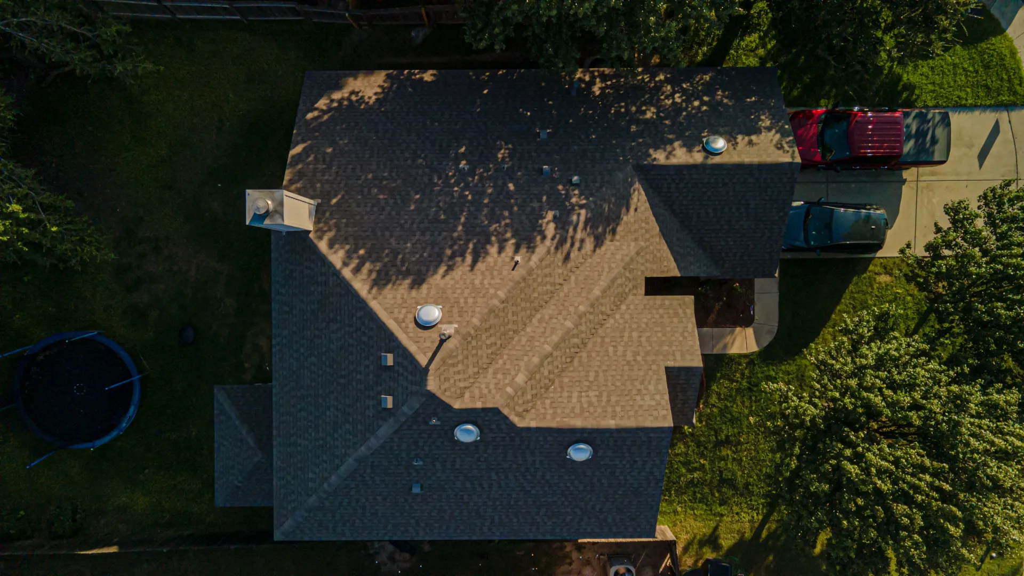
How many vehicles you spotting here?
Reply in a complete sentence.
There are 2 vehicles in the image.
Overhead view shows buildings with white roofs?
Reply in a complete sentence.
No, no building with a white roof is visible in the view.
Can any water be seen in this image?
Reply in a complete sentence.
No, the picture contains no water.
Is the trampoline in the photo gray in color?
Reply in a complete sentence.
No, from above the trampoline looks black.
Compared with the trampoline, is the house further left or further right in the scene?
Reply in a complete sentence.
Relative to the trampoline, the house lies to the right.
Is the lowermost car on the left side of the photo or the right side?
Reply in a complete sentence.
The lowermost car sits on the right side.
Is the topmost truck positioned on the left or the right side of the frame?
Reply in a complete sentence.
The topmost truck appears in the right half of the scene.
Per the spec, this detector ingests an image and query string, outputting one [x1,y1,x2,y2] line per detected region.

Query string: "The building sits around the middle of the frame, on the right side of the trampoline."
[214,66,800,542]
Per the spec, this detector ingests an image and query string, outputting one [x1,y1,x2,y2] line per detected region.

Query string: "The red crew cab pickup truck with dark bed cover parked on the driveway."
[788,100,952,174]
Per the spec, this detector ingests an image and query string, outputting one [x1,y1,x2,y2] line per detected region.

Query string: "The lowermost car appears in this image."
[783,195,887,257]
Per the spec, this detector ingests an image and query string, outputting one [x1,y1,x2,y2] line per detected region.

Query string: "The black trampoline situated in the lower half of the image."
[0,328,148,462]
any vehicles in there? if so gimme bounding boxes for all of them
[783,195,887,257]
[788,100,952,174]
